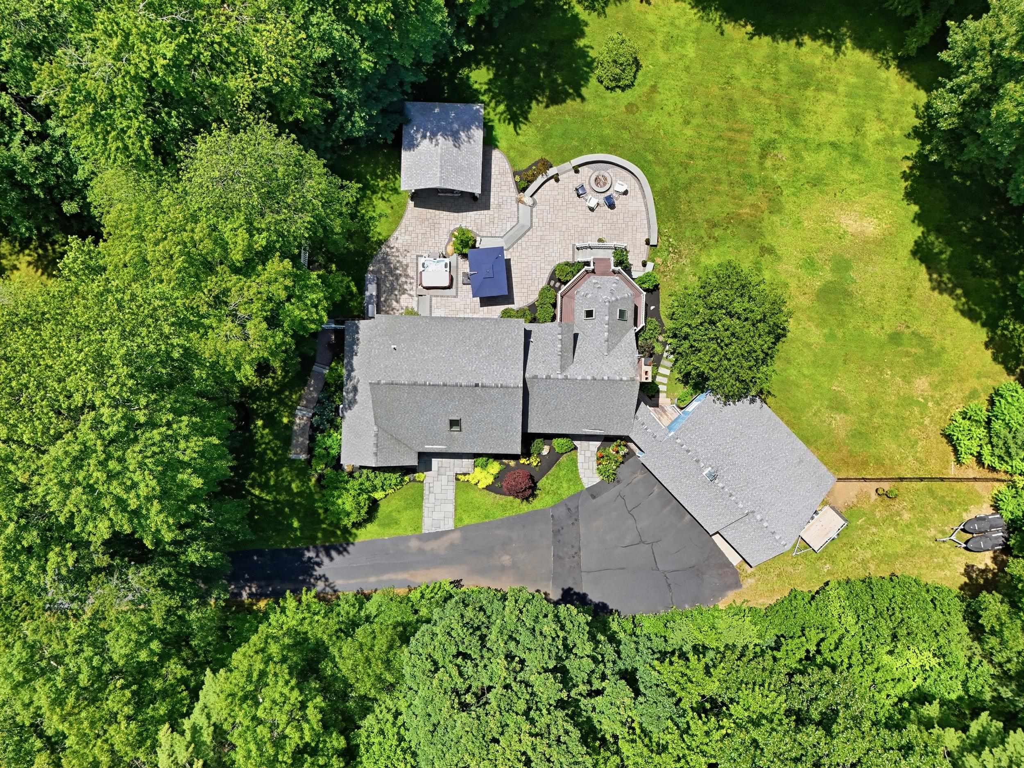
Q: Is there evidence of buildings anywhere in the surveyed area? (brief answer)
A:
Yes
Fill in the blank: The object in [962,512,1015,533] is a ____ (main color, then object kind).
gray boat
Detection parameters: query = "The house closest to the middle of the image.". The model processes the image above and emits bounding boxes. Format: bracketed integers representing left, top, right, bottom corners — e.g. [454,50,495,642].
[339,276,652,466]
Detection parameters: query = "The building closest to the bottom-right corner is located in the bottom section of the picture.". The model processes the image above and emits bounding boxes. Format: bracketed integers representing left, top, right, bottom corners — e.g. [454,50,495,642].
[628,370,836,568]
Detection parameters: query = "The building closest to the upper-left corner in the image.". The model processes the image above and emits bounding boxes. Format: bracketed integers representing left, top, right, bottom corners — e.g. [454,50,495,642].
[401,102,485,199]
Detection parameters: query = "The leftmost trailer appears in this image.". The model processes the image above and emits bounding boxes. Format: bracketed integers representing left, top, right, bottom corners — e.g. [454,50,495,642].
[792,504,855,556]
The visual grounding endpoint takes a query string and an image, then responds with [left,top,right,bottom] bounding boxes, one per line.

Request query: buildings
[401,102,485,199]
[339,276,652,466]
[628,370,836,568]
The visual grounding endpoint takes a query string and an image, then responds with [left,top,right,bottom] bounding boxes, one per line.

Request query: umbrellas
[461,247,508,298]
